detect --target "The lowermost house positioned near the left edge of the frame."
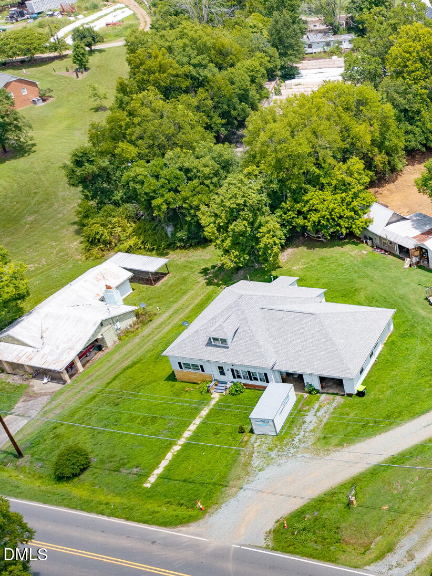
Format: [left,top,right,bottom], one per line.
[0,260,141,387]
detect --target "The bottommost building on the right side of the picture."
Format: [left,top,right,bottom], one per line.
[162,274,397,399]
